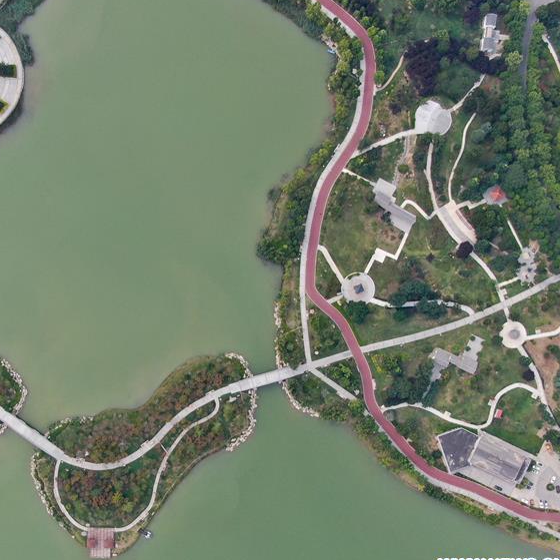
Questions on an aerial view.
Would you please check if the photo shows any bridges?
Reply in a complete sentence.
Yes, the image includes a bridge.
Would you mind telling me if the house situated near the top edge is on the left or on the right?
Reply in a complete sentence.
The house situated near the top edge appears in the right half of the scene.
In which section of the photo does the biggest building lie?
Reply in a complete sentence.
The biggest building is located in the bottom right region of the scene.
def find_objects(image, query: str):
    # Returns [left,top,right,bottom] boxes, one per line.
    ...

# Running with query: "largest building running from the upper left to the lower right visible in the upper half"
[373,177,415,233]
